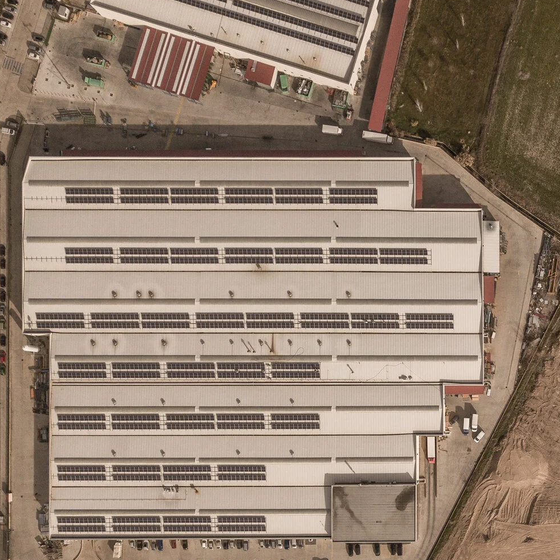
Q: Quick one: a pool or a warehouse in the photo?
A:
warehouse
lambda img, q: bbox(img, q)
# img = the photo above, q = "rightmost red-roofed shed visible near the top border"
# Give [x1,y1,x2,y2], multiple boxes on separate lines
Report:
[369,0,412,132]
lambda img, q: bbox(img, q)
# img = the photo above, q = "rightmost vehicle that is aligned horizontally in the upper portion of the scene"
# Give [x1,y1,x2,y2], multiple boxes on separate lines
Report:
[361,128,392,143]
